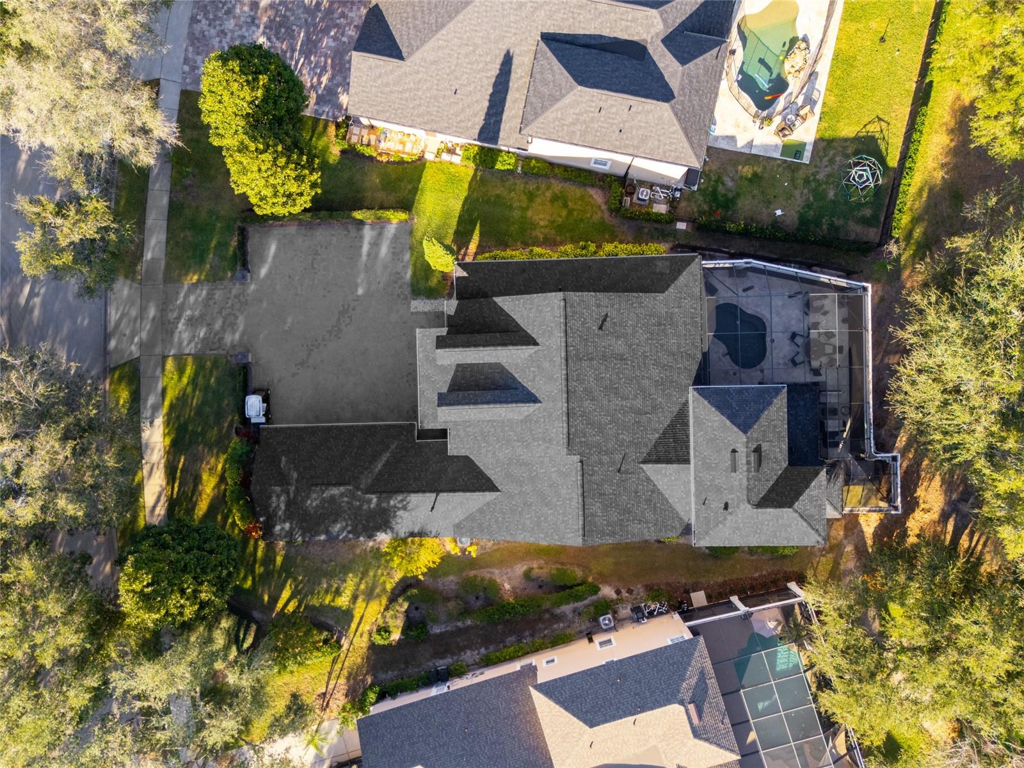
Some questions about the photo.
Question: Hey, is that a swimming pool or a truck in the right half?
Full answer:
The feature located in the right half is a swimming pool.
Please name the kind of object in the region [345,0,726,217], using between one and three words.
house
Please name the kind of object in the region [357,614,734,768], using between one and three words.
house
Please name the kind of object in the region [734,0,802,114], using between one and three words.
swimming pool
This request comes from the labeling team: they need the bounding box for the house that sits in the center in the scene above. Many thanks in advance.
[254,255,847,546]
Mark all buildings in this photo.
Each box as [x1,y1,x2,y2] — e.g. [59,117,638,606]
[357,614,734,768]
[345,0,726,217]
[254,255,847,546]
